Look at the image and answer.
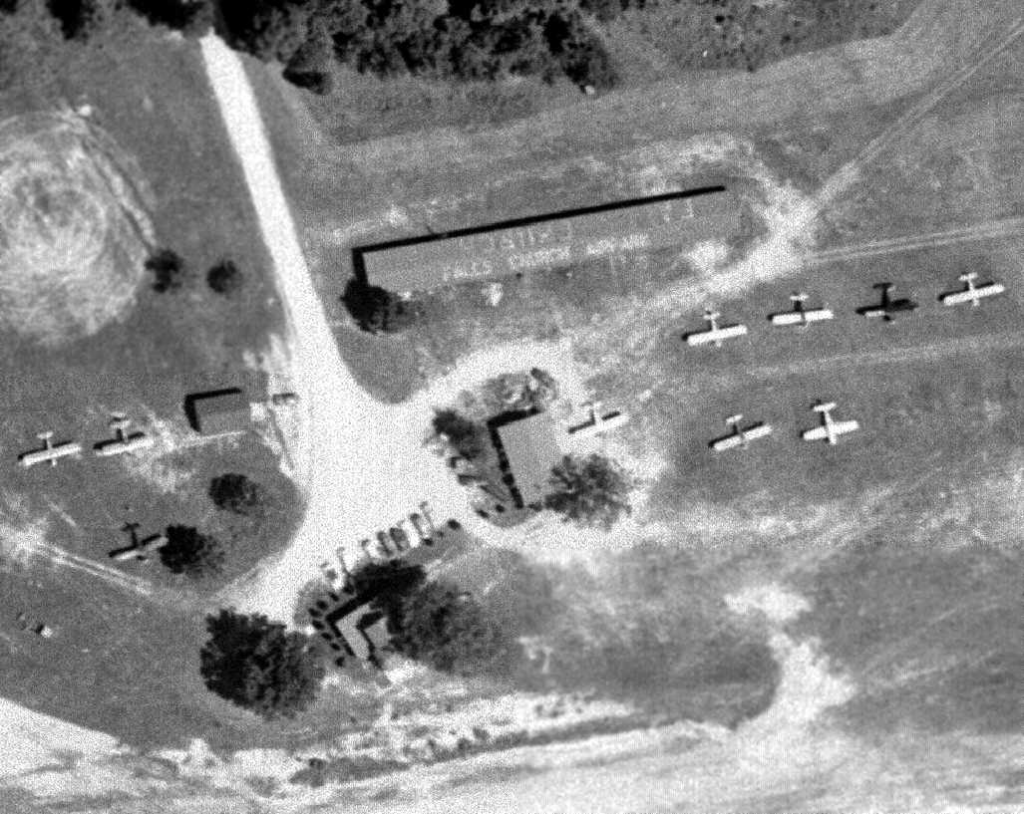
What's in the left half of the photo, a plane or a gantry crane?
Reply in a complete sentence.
The one visible in the left half of the photo is a plane.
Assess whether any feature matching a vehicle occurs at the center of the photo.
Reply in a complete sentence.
Yes, at the center of the photo there is a vehicle.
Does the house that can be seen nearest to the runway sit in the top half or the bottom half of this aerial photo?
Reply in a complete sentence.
Seen from above, the house that can be seen nearest to the runway lies in the bottom half of the view.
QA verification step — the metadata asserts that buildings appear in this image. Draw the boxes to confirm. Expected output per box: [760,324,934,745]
[499,415,571,509]
[363,190,737,297]
[192,389,255,438]
[334,599,408,662]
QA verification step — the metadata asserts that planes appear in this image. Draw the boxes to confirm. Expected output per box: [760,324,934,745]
[93,424,155,461]
[687,312,749,349]
[569,403,630,441]
[803,402,860,446]
[862,287,923,324]
[20,431,82,468]
[772,293,834,330]
[945,272,1006,308]
[110,526,170,563]
[713,415,774,452]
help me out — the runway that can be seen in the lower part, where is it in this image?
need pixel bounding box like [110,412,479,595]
[0,635,1024,814]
